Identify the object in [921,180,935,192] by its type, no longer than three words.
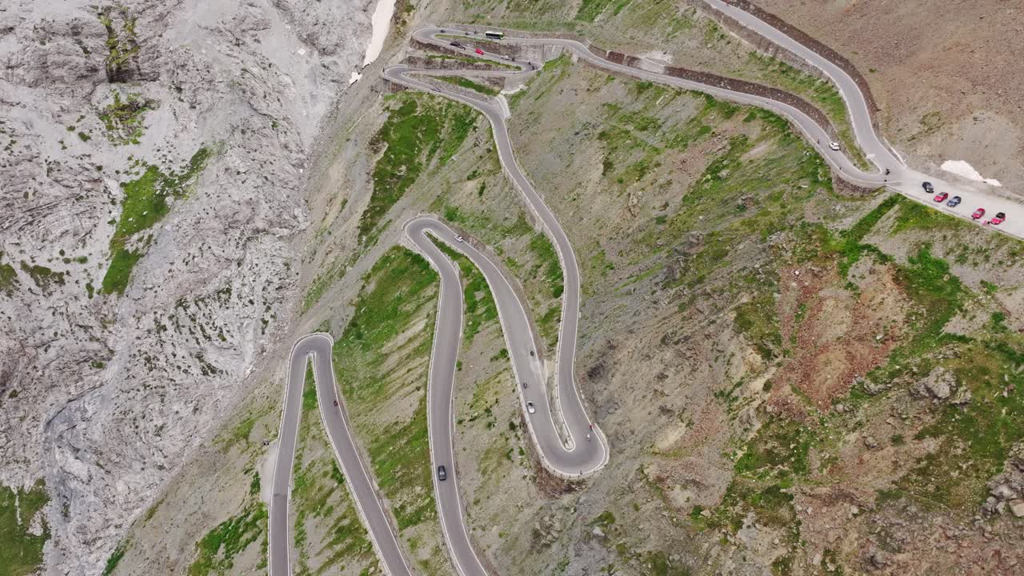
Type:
vehicle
